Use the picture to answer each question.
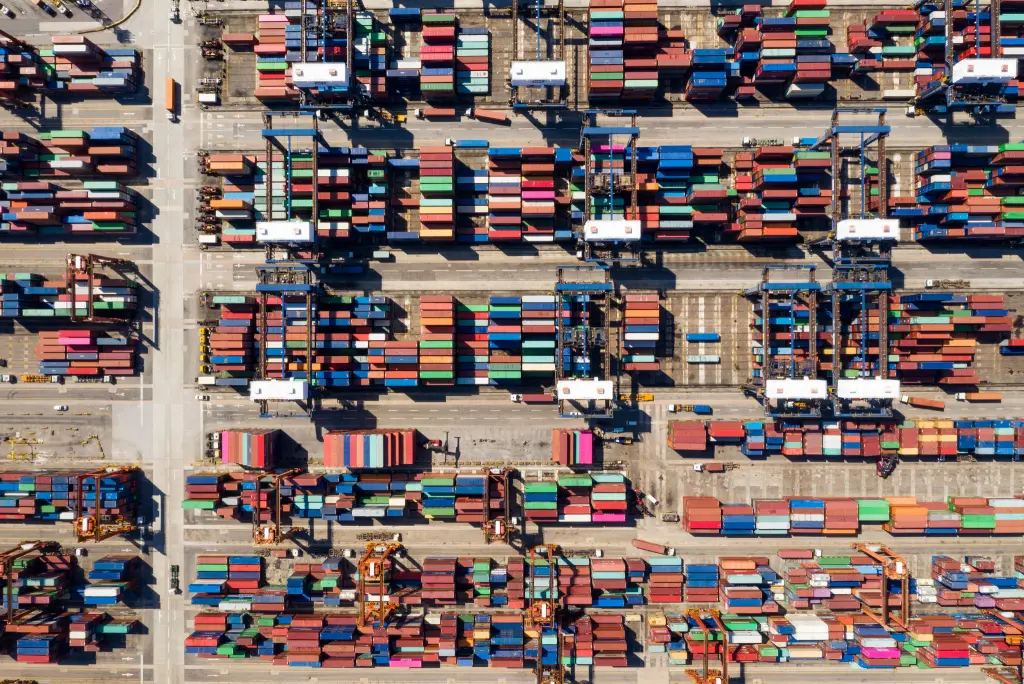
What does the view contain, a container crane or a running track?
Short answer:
container crane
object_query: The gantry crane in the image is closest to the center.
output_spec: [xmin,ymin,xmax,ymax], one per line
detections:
[548,266,614,418]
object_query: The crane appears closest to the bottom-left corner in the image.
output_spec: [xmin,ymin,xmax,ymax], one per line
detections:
[0,534,58,624]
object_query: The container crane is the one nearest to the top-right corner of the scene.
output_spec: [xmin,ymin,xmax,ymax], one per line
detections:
[906,0,1014,109]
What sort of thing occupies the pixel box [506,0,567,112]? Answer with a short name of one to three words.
container crane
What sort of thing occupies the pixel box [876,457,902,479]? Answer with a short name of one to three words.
work vehicle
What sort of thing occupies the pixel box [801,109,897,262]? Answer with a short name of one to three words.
container crane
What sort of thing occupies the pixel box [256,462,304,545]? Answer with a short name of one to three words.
crane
